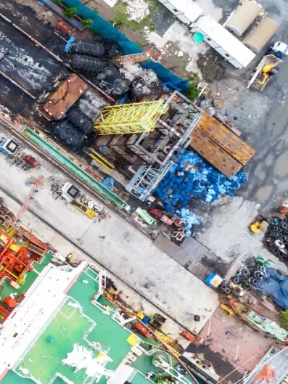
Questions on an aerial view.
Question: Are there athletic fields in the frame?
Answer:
No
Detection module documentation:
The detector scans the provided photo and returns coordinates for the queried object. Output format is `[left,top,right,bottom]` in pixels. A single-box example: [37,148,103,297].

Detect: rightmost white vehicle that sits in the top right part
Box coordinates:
[246,43,288,91]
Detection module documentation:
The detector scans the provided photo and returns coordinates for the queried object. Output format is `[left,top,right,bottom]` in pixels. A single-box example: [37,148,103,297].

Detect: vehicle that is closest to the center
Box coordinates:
[150,205,176,227]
